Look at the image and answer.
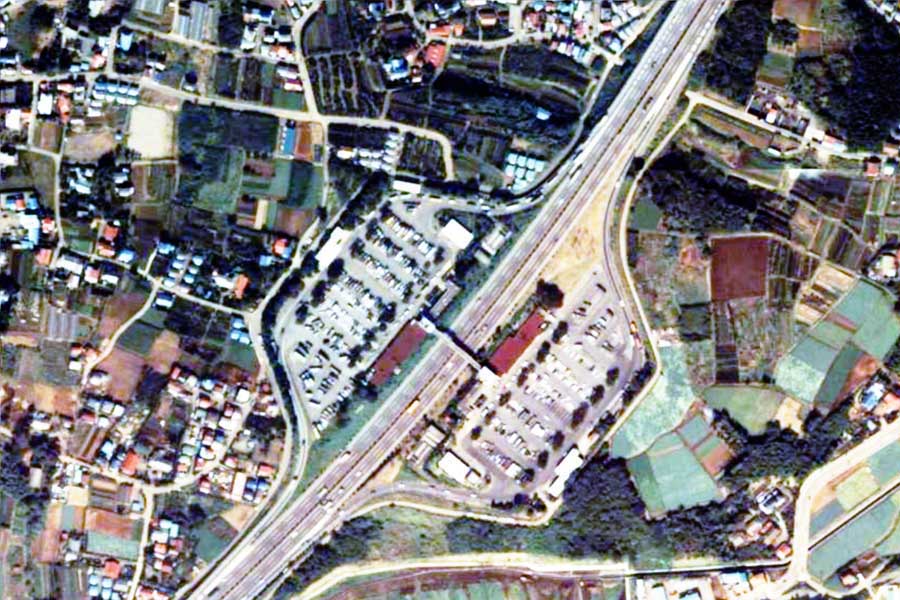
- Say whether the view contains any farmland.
Yes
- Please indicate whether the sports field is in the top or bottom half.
top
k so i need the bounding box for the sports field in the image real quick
[126,104,176,158]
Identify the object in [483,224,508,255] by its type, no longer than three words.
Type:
house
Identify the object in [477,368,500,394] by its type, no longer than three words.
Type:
building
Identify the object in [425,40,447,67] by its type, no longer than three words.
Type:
building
